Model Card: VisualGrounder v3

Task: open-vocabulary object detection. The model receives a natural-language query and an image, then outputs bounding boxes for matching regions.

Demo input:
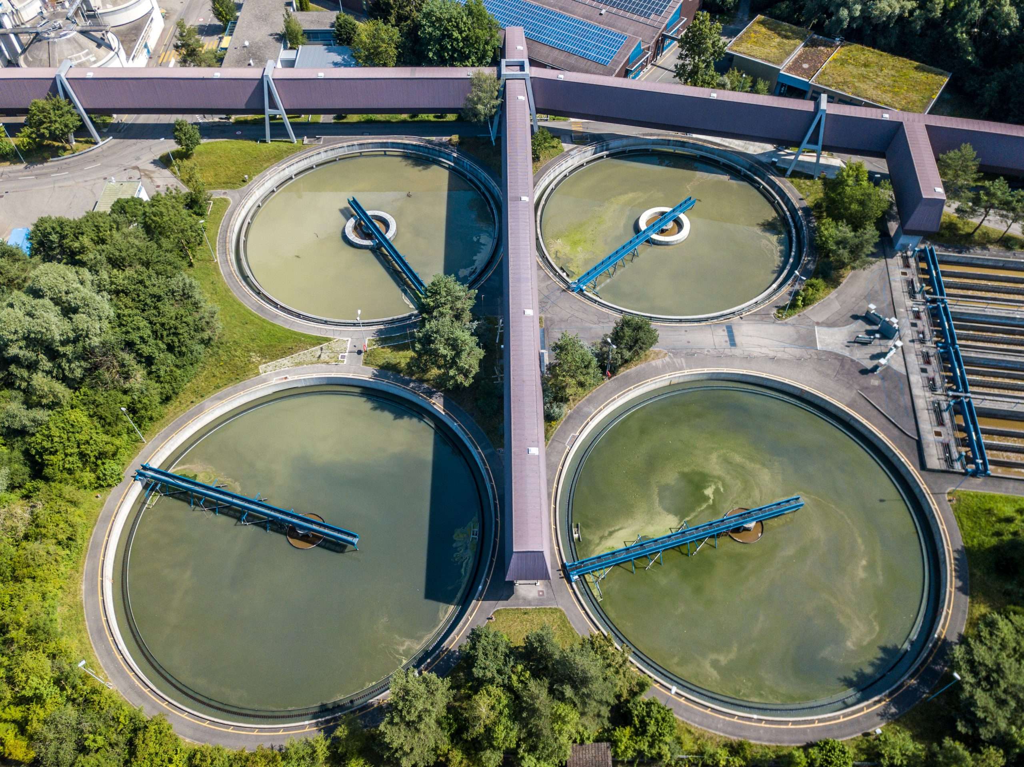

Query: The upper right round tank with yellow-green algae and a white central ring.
[532,128,808,325]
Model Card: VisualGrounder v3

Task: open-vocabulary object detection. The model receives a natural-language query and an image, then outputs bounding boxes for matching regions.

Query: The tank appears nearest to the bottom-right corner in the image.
[552,367,955,727]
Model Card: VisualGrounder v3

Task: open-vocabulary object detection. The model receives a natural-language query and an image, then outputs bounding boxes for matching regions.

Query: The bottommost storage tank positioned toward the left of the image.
[98,369,500,735]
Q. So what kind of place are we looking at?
industrial area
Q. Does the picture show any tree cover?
Yes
